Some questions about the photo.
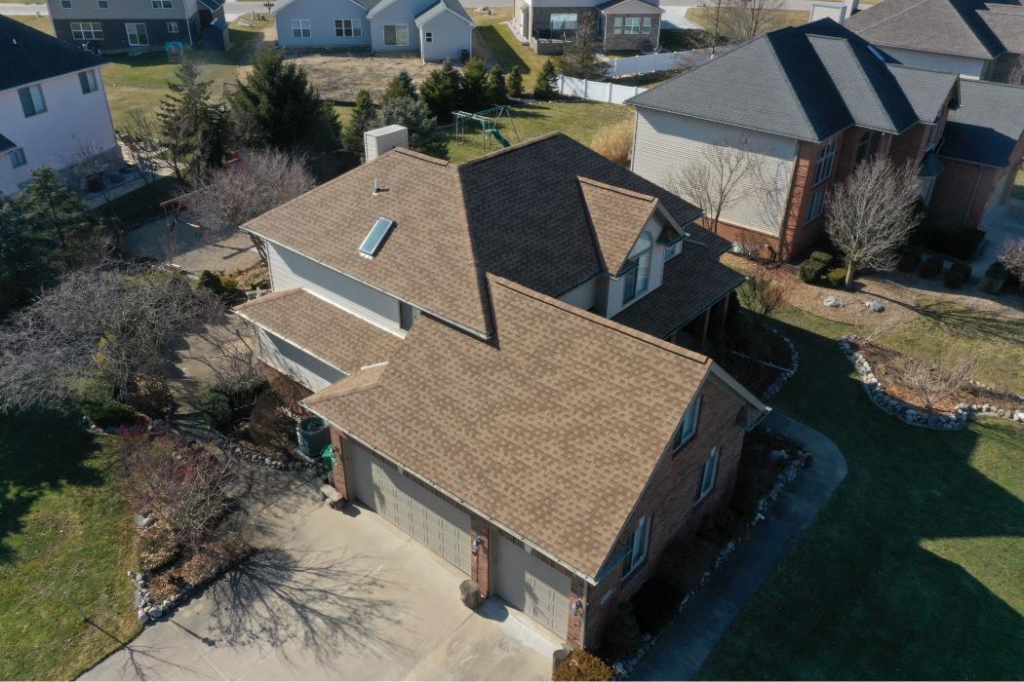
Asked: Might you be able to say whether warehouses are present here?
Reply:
No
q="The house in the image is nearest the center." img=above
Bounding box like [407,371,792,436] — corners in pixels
[231,124,772,652]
